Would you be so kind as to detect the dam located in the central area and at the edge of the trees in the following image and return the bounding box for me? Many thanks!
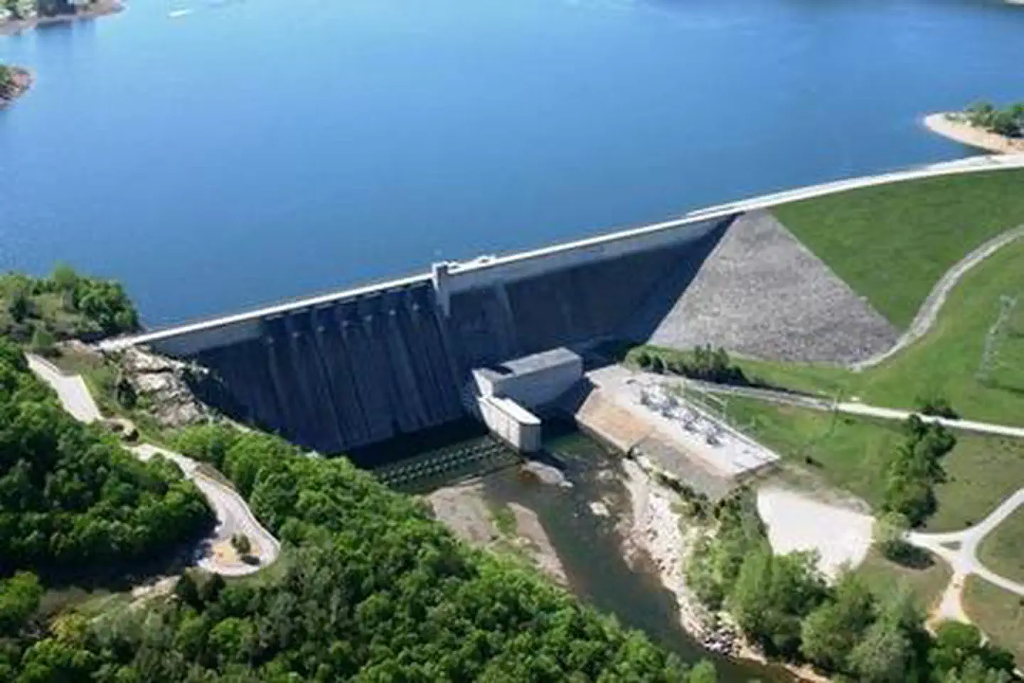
[90,201,771,460]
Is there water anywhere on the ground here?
Yes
